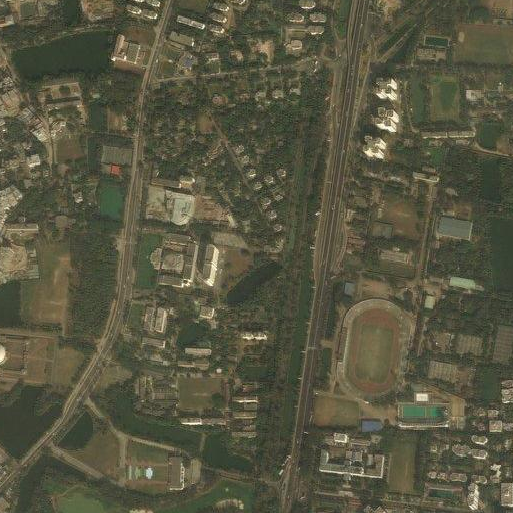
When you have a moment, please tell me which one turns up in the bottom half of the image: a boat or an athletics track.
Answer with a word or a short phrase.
athletics track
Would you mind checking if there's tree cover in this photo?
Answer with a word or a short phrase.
Yes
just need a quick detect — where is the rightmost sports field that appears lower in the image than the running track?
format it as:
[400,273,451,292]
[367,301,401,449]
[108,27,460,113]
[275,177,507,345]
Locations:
[388,441,415,493]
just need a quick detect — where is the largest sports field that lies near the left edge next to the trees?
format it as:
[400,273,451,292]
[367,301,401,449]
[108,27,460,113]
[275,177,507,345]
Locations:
[21,239,69,324]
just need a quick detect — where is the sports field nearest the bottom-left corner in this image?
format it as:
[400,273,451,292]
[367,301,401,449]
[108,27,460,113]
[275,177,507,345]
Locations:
[54,347,82,385]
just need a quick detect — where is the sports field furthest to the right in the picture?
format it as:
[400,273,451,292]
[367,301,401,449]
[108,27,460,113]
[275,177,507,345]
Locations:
[455,24,513,64]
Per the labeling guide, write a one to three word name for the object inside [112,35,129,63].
building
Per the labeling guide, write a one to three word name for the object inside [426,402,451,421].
swimming pool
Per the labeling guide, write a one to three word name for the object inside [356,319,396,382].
sports field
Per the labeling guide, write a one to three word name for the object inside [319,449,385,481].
building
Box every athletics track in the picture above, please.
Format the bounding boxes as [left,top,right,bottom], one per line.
[347,304,404,396]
